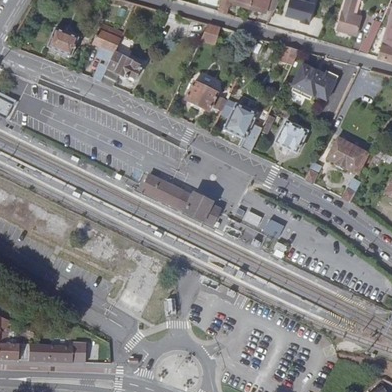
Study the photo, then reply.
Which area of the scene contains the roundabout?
bottom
